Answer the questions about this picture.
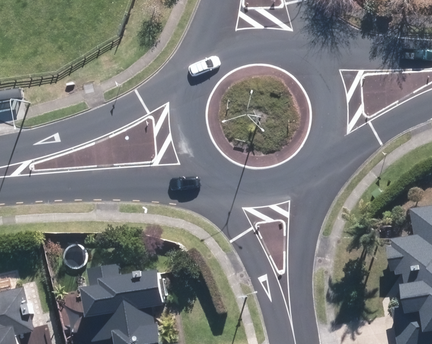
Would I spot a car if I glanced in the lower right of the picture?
No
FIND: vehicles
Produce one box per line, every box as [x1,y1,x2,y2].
[168,178,200,194]
[186,56,222,76]
[402,46,432,62]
